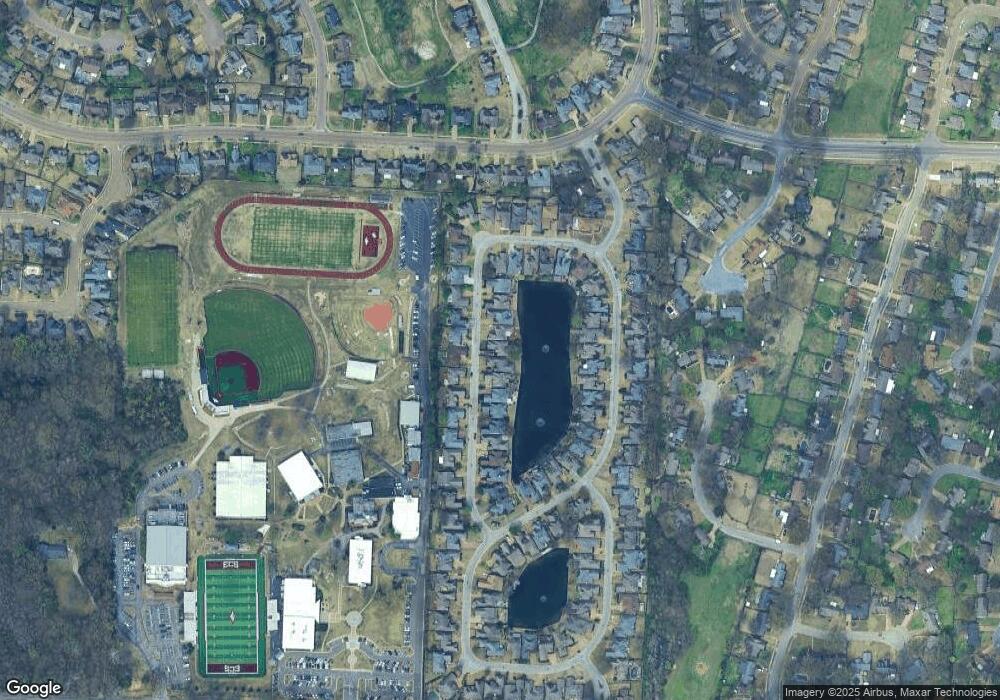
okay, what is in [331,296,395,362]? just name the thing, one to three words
baseball field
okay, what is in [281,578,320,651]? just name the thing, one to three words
building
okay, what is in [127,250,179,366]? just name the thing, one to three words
sports field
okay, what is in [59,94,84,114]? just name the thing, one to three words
house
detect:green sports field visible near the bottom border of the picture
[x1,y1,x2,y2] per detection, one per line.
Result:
[196,554,266,679]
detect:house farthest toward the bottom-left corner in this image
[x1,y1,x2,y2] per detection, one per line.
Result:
[37,545,65,557]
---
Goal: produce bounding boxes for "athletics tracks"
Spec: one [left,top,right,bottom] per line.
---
[215,196,393,277]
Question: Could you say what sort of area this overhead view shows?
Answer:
residential area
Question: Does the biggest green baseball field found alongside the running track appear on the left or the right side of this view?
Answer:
left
